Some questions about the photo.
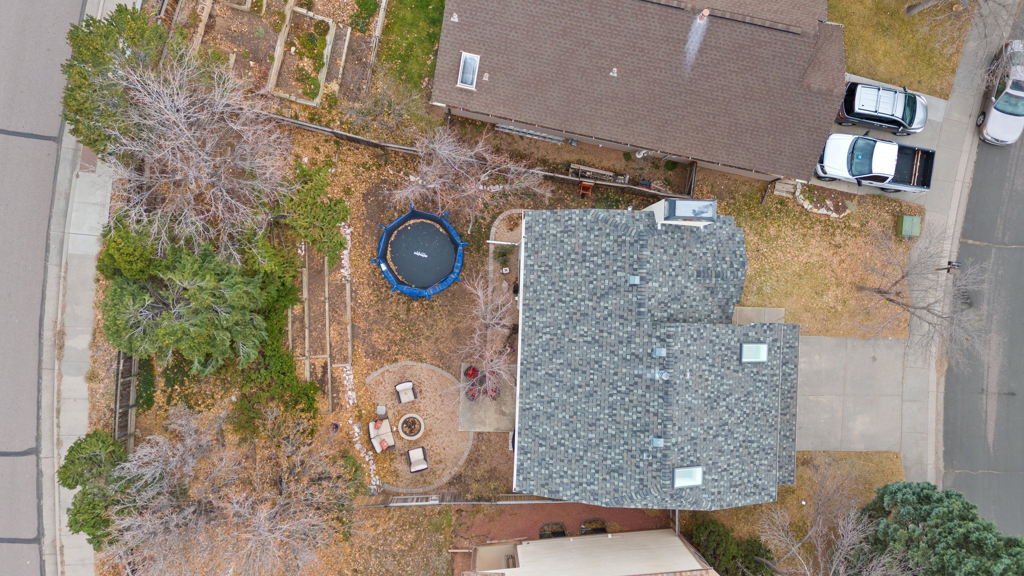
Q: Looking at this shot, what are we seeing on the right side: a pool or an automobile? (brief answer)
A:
automobile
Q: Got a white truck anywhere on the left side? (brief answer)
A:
No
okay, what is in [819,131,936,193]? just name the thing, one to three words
truck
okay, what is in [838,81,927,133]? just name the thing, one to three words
car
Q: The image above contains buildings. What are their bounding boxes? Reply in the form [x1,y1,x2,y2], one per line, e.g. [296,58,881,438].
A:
[510,198,802,516]
[463,530,713,576]
[430,0,848,185]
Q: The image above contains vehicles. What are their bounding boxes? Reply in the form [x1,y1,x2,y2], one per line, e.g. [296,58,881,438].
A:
[980,46,1024,149]
[838,81,927,133]
[819,131,936,193]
